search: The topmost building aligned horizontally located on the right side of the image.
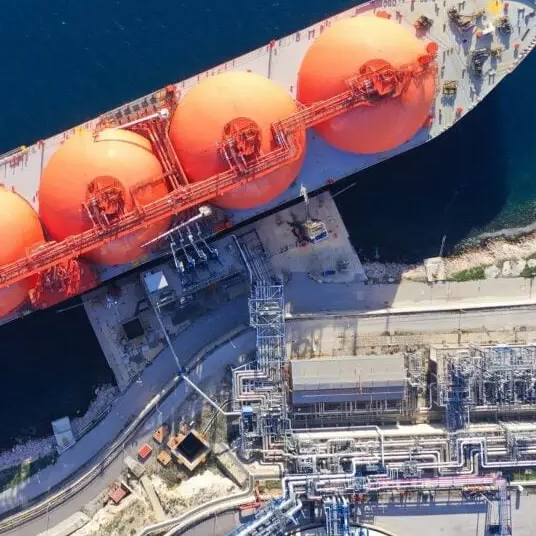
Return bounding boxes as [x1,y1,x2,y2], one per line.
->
[291,355,406,404]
